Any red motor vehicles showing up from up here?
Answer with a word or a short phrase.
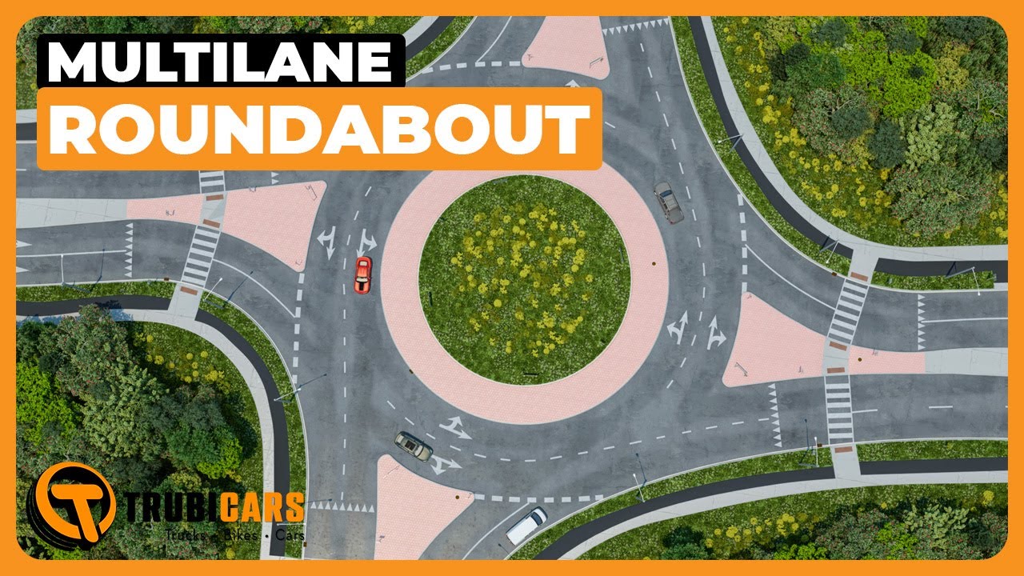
Yes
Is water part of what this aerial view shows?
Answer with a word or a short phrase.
No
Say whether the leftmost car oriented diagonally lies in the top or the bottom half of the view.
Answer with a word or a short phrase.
bottom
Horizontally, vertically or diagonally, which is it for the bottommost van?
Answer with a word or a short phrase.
diagonally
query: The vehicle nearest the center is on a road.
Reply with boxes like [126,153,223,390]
[354,257,372,295]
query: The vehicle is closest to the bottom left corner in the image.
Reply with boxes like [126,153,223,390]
[395,430,432,462]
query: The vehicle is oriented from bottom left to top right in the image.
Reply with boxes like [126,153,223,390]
[506,508,548,547]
